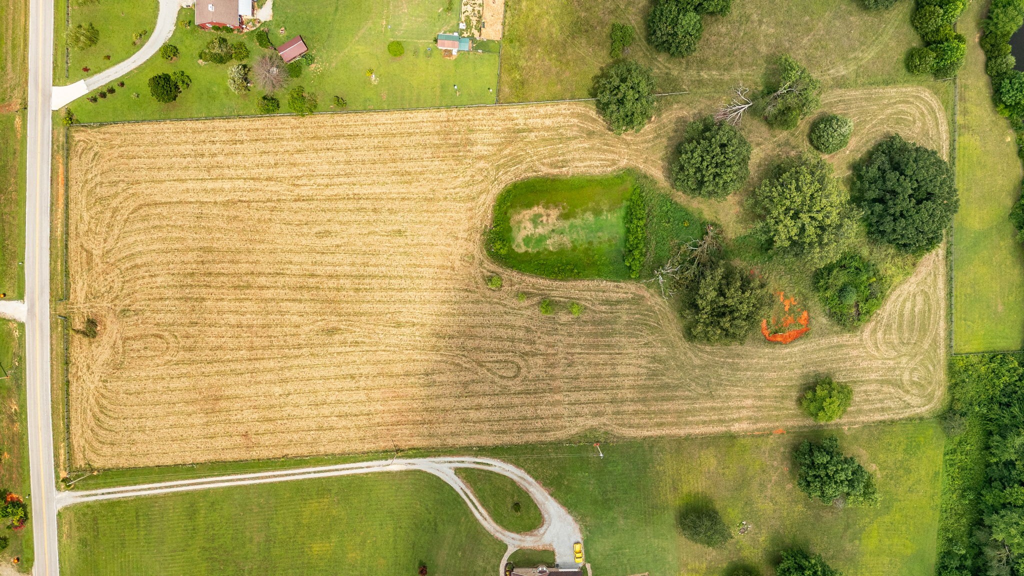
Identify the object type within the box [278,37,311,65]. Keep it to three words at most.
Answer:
shed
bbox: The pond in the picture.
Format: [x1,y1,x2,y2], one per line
[493,171,640,281]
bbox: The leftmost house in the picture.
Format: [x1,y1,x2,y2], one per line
[195,0,265,32]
